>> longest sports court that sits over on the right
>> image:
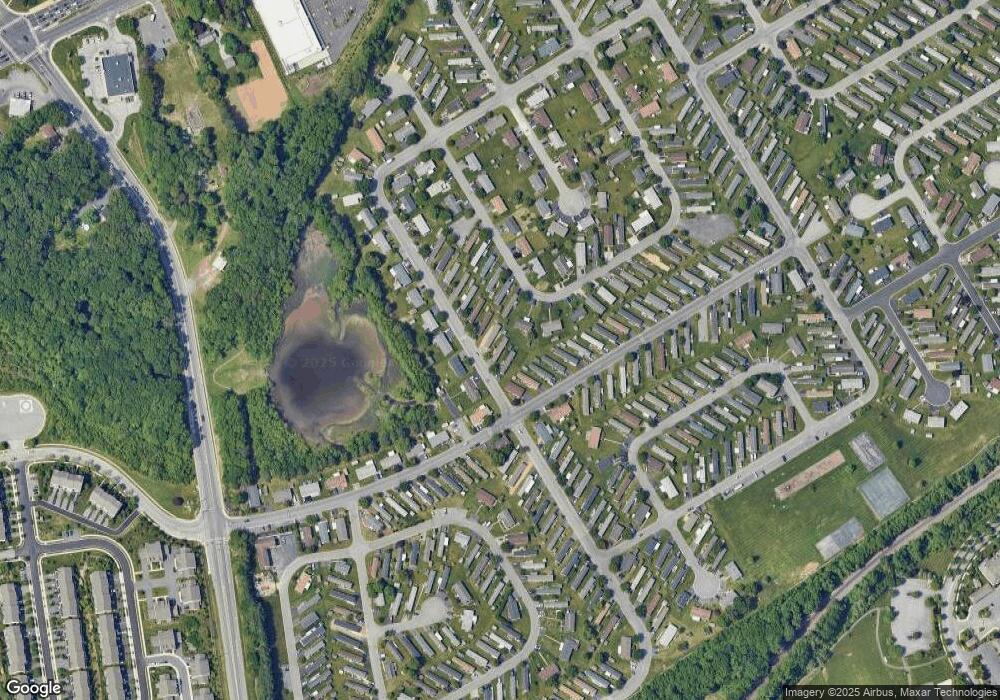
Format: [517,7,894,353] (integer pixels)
[775,450,845,500]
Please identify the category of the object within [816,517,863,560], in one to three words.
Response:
sports court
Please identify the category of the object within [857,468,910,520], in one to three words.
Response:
tennis court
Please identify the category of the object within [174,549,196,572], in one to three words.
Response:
house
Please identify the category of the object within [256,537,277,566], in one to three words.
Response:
building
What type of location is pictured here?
residential area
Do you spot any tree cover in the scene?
Yes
